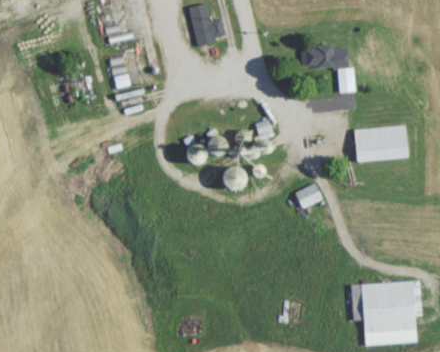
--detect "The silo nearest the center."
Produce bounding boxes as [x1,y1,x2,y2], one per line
[222,165,248,192]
